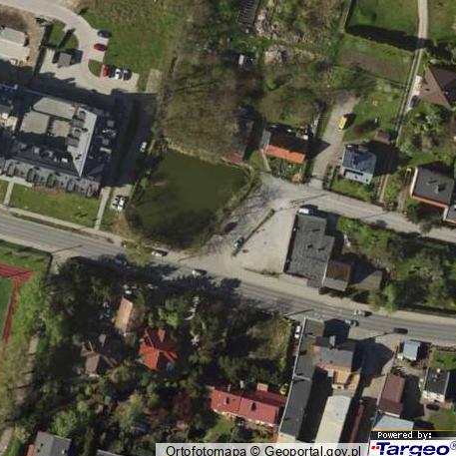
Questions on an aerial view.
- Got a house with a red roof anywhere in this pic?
Yes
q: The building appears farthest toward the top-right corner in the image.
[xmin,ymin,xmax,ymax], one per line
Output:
[419,66,456,108]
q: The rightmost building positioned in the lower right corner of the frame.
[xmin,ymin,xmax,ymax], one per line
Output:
[424,367,452,396]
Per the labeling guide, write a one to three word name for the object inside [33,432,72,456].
house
